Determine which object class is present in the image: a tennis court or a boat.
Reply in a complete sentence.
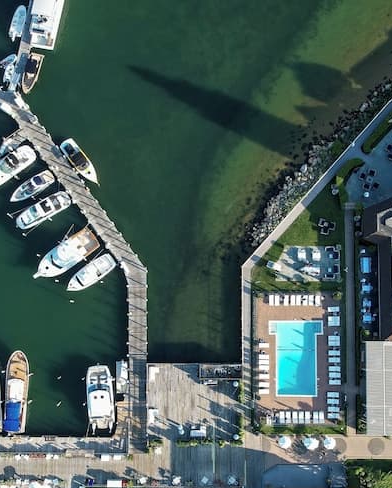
Of the two, only a boat appears.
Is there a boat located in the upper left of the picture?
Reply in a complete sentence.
Yes, a boat can be seen in the upper left of the picture.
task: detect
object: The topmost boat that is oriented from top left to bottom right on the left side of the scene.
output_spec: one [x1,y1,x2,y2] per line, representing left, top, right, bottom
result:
[60,138,99,184]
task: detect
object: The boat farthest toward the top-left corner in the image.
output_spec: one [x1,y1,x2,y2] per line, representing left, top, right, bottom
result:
[8,5,25,42]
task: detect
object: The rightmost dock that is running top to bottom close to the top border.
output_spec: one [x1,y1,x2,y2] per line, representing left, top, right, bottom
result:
[10,0,40,94]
